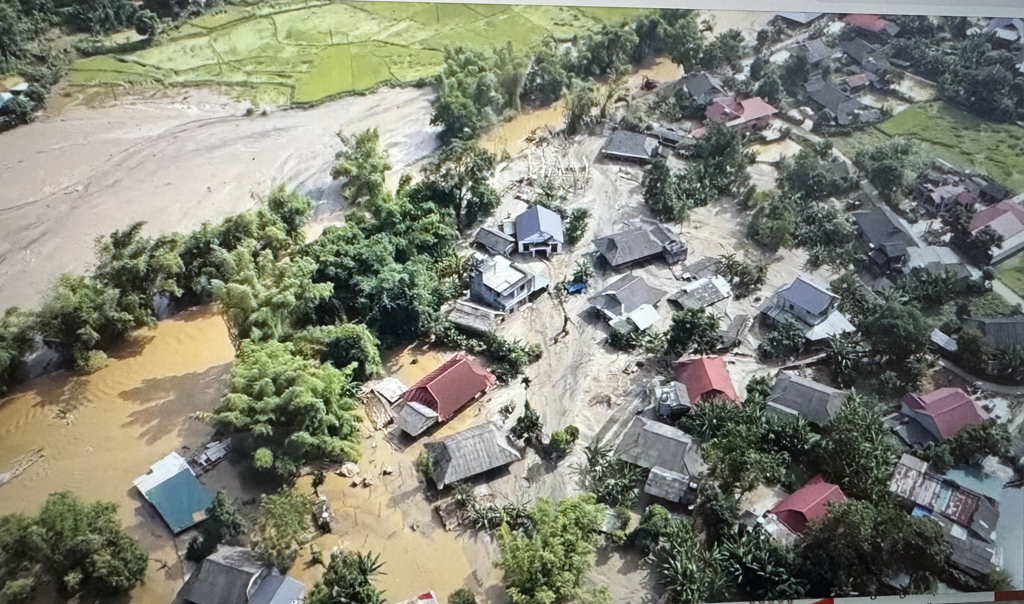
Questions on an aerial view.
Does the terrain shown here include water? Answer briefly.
Yes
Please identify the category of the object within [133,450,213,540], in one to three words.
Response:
house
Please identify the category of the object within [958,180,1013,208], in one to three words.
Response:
house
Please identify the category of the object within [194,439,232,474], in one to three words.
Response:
shed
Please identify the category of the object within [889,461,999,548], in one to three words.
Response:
building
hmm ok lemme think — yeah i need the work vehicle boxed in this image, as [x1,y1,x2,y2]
[634,70,656,88]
